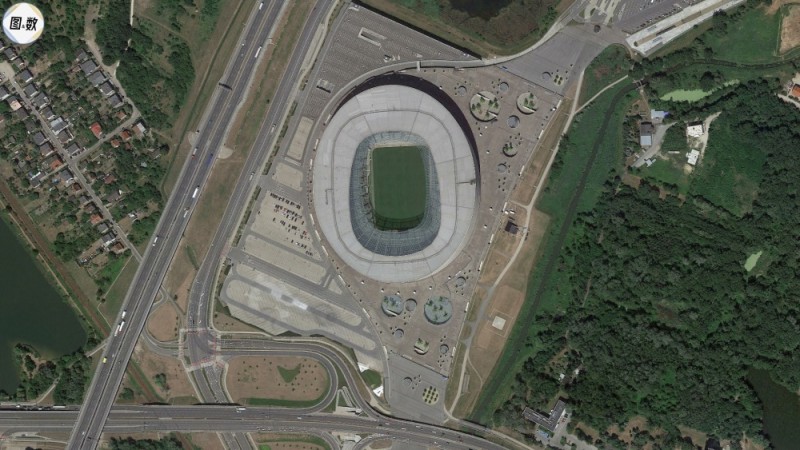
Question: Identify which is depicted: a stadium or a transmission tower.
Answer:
stadium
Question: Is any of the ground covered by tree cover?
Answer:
Yes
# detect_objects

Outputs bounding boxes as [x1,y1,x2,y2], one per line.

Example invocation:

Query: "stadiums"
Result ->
[312,84,480,287]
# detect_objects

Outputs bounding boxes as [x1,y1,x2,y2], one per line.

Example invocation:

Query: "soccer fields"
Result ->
[371,148,426,231]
